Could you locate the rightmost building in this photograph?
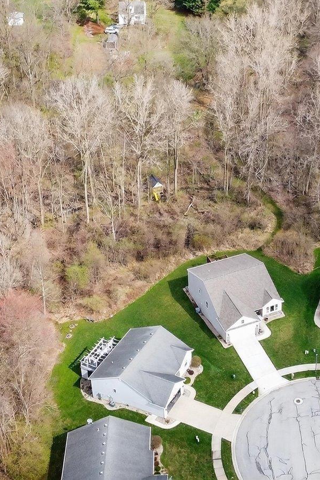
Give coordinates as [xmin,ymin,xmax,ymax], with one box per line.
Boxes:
[187,251,285,343]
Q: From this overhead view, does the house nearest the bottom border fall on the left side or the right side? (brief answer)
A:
left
